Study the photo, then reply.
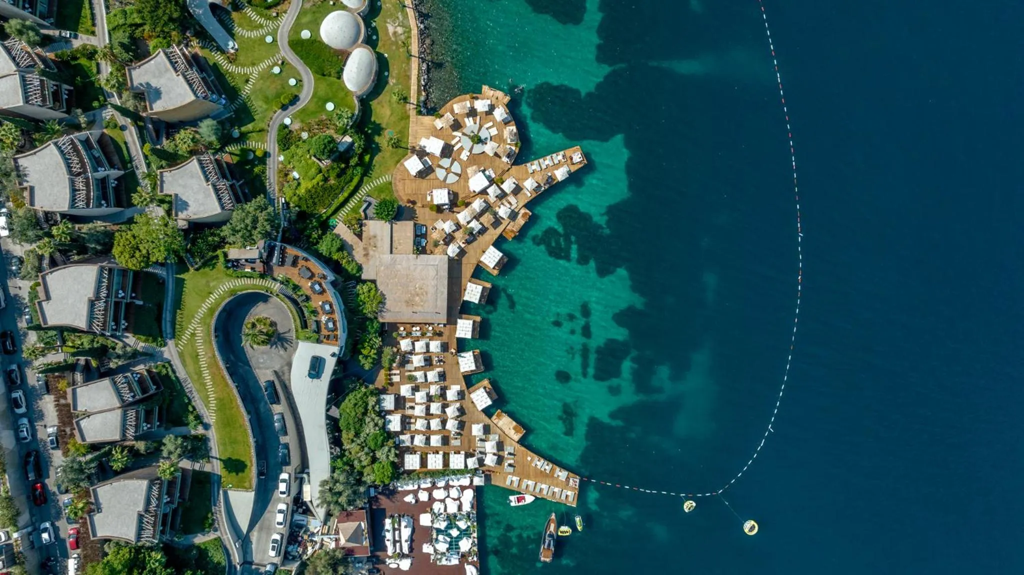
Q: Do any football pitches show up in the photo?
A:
No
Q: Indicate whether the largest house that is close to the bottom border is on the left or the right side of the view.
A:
left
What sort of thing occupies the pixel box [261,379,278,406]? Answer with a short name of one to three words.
car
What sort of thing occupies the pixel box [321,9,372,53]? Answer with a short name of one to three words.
building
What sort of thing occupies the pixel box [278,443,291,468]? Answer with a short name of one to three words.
vehicle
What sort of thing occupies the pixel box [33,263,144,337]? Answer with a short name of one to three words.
house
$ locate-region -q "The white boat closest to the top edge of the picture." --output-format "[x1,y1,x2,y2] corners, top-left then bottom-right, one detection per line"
[508,494,535,506]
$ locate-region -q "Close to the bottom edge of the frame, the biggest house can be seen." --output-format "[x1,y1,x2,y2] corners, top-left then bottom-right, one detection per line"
[86,464,193,548]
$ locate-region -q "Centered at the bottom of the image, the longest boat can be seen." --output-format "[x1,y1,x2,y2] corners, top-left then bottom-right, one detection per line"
[540,514,557,566]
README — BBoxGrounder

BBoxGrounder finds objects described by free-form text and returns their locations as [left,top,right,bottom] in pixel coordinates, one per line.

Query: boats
[575,516,582,531]
[540,514,557,566]
[508,494,535,506]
